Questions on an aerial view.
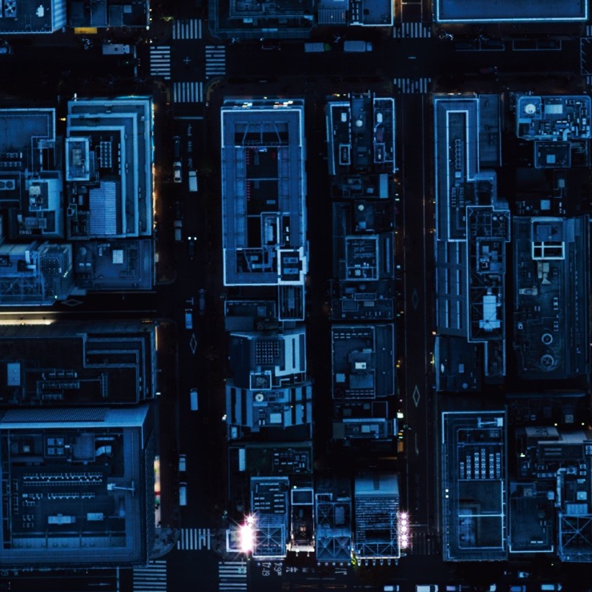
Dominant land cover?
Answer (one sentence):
Most of the picture is covered by buildings.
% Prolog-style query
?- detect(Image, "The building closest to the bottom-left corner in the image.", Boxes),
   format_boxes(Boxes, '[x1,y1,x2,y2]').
[0,405,155,569]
